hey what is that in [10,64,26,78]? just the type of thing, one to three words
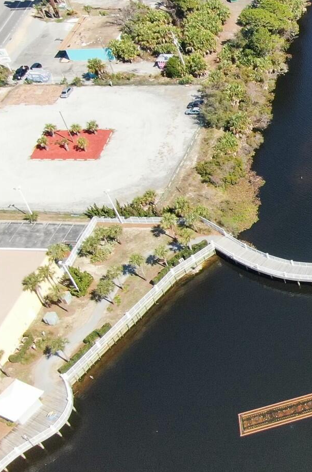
vehicle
